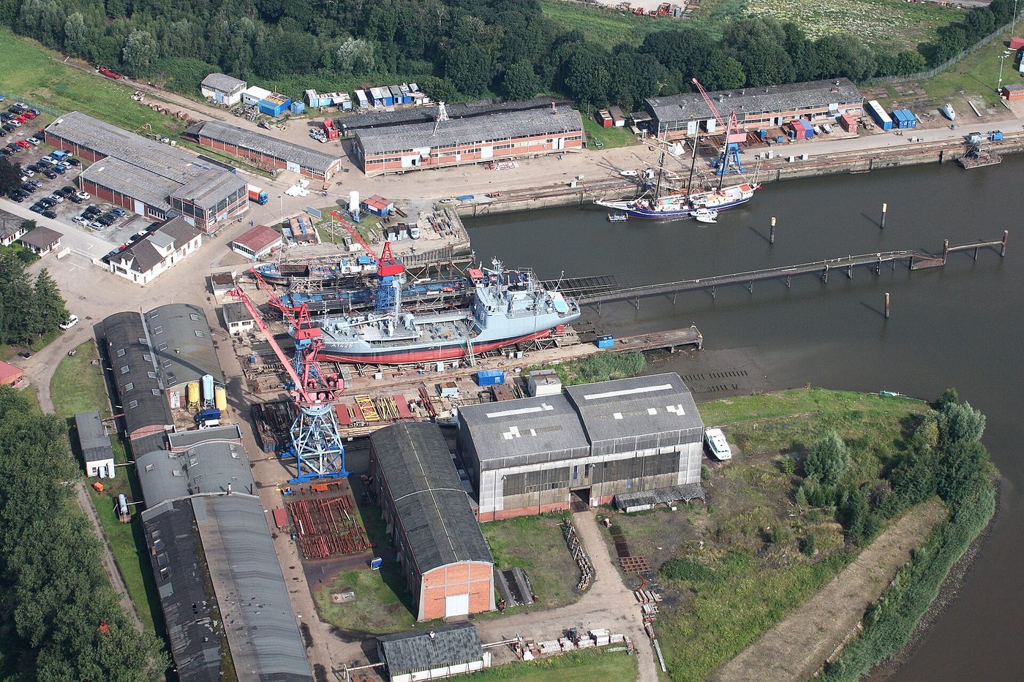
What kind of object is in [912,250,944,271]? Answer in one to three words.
pier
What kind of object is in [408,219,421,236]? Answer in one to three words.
vehicle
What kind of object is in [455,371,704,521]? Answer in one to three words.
building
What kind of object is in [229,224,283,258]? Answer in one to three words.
shed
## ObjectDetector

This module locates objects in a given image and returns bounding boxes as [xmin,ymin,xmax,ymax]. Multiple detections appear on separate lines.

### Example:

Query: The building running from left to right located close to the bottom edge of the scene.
[383,623,490,682]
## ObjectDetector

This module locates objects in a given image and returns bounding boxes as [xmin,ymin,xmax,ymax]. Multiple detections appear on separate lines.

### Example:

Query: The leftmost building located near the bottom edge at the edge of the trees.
[140,479,313,682]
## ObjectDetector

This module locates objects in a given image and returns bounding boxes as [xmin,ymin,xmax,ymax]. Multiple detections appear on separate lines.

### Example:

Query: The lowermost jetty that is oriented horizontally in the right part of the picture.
[553,315,704,356]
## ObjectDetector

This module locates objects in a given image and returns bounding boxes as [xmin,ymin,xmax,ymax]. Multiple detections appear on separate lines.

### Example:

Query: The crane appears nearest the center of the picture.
[328,209,410,321]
